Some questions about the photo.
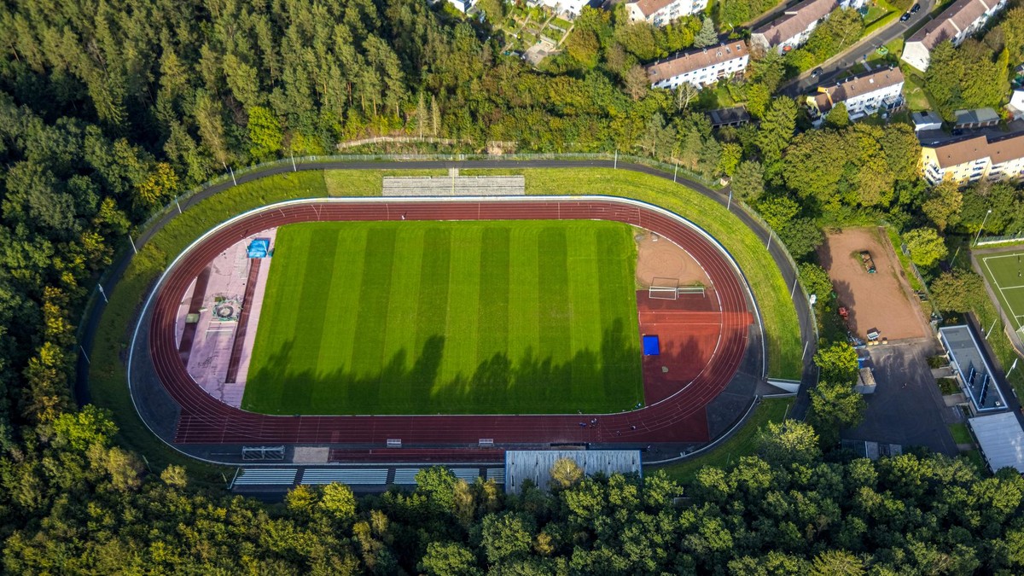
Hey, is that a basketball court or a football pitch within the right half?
football pitch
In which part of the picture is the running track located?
center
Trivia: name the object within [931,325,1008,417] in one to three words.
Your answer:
building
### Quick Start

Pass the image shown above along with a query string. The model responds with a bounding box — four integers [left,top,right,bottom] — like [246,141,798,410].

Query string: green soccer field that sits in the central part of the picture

[242,219,644,415]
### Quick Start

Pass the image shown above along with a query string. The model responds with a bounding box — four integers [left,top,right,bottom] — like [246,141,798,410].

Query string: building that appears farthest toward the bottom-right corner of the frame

[966,412,1024,479]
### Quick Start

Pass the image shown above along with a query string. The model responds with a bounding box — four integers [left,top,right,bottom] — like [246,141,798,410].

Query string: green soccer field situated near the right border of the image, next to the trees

[974,248,1024,346]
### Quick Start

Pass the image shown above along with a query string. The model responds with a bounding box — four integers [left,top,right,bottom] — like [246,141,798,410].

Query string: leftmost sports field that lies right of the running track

[826,227,933,345]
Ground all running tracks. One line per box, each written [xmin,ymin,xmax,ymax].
[150,202,755,443]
